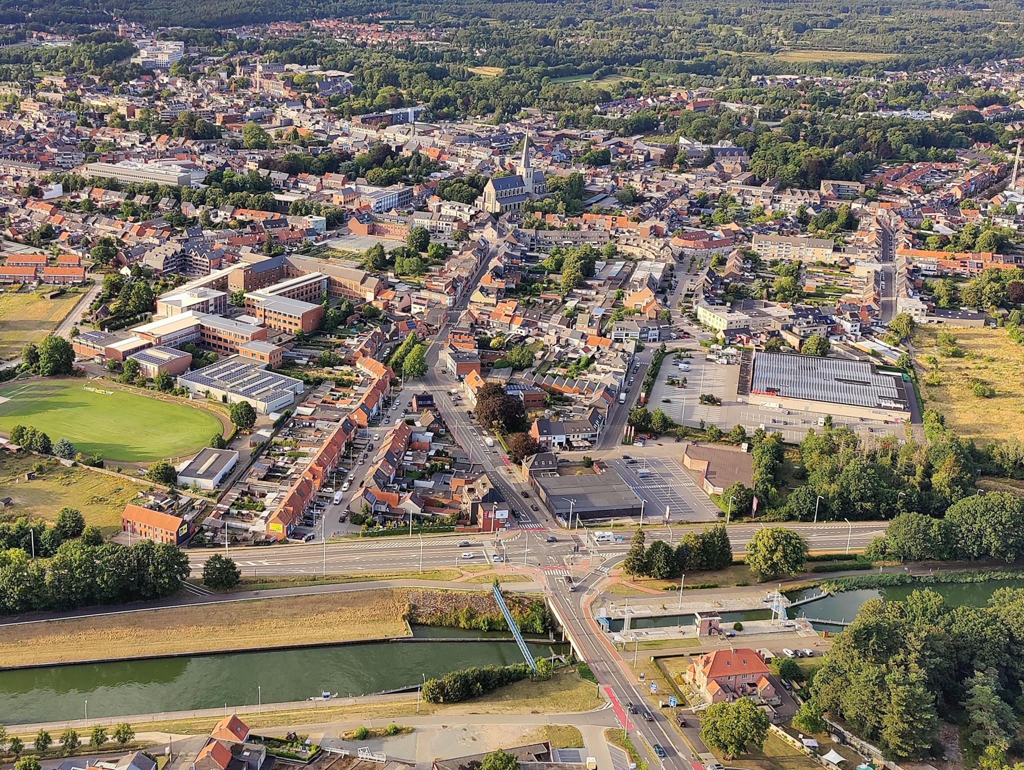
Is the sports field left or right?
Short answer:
left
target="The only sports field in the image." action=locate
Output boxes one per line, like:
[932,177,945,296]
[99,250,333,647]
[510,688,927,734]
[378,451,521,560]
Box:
[0,379,223,461]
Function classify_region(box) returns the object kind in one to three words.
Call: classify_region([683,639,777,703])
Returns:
house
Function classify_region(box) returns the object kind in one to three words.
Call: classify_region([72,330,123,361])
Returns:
building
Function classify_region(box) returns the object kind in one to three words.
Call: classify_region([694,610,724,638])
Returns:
building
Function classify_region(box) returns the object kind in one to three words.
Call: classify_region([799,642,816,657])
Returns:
vehicle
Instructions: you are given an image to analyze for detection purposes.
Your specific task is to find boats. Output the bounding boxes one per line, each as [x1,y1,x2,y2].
[308,688,340,701]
